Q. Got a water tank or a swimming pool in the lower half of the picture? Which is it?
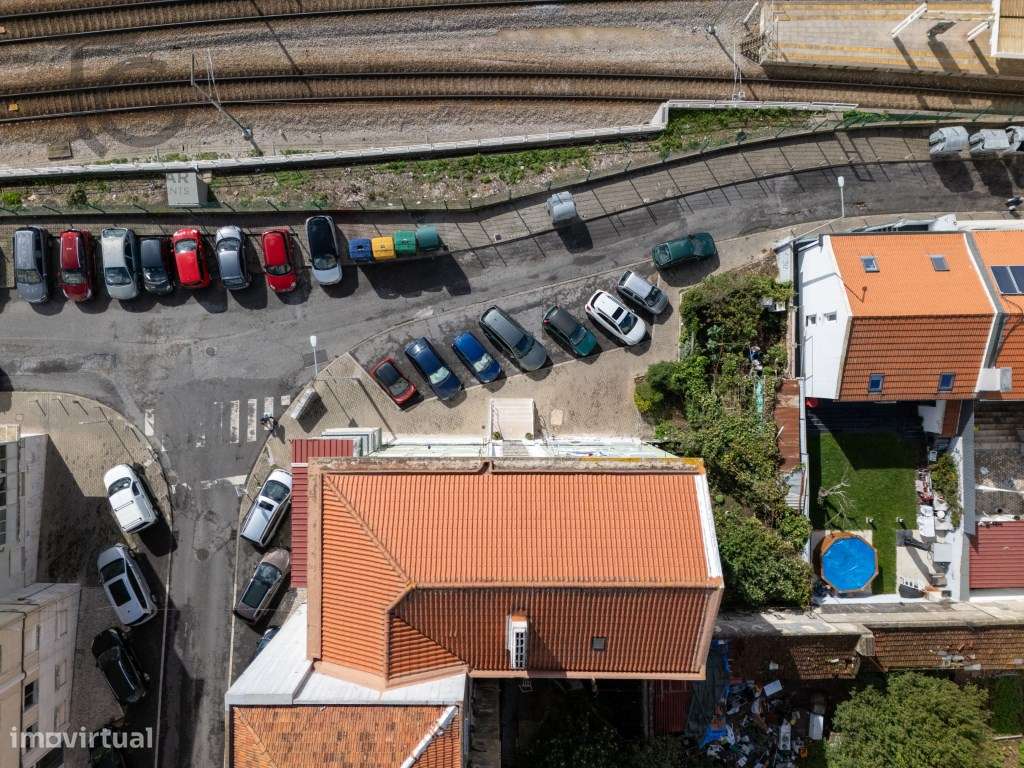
swimming pool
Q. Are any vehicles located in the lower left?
Yes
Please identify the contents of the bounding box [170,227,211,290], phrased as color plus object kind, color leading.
red car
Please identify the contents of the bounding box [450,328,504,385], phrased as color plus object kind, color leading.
blue car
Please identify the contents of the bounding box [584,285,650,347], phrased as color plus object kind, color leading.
white car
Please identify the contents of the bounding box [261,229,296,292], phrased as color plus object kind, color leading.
red car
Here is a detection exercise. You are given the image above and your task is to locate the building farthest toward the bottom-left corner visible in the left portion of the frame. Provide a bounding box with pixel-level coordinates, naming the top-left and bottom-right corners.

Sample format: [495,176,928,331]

[0,586,79,768]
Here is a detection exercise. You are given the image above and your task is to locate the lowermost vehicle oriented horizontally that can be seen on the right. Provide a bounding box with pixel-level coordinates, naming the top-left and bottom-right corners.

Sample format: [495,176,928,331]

[653,228,721,268]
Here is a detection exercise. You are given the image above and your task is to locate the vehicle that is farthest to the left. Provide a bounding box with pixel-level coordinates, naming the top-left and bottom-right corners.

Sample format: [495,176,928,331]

[9,228,51,303]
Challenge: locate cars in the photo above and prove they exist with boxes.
[210,226,250,292]
[584,285,650,347]
[653,228,721,268]
[373,358,417,405]
[479,303,546,373]
[234,544,290,621]
[406,337,463,402]
[91,628,150,705]
[55,232,97,302]
[239,622,285,676]
[261,229,296,292]
[613,263,673,317]
[450,328,504,385]
[307,216,343,286]
[101,462,159,535]
[101,228,139,299]
[542,303,601,359]
[170,227,211,290]
[96,546,156,625]
[138,238,174,296]
[240,467,290,543]
[9,228,51,303]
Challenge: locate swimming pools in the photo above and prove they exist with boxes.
[810,525,881,594]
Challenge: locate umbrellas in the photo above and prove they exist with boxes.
[896,531,939,551]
